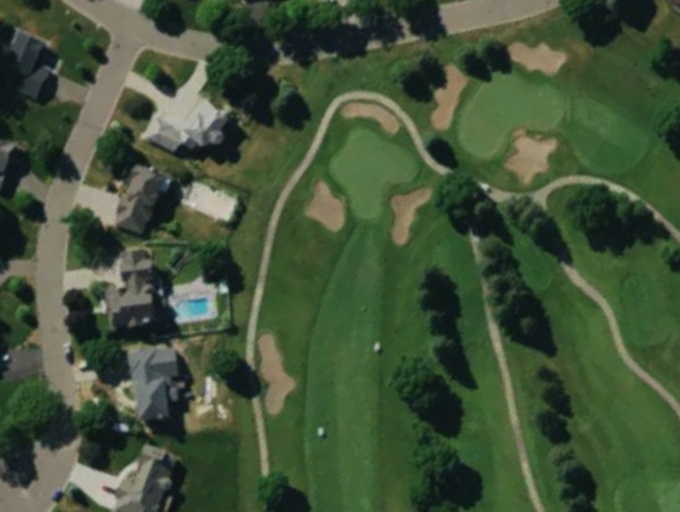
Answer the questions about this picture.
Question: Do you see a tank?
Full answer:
No, the scene contains no tank.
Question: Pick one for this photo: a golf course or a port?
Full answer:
It's a golf course.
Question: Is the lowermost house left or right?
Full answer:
The lowermost house sits on the left side.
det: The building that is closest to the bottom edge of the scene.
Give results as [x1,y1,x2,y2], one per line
[111,446,172,512]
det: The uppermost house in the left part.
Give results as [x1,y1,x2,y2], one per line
[10,27,59,102]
